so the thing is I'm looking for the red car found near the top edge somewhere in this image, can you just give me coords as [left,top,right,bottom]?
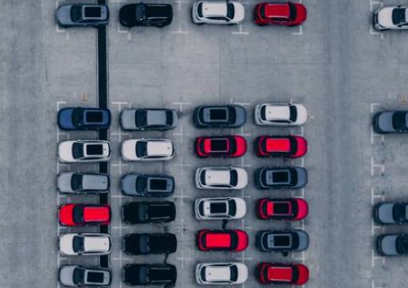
[253,0,308,27]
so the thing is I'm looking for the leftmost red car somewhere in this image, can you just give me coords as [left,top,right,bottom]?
[57,202,112,229]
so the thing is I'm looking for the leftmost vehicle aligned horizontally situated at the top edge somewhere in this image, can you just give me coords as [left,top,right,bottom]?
[54,1,109,28]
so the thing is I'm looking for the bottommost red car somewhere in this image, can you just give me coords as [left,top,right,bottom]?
[255,261,310,287]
